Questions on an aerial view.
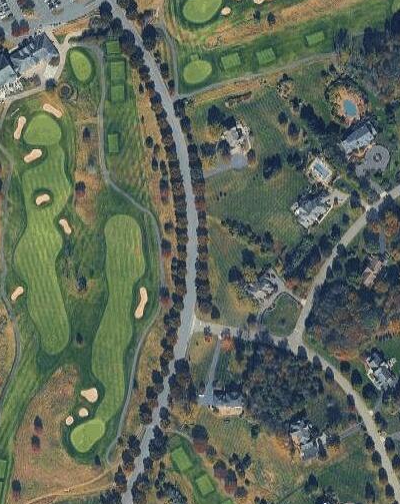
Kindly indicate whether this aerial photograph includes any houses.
Yes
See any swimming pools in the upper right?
Yes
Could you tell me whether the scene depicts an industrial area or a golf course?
golf course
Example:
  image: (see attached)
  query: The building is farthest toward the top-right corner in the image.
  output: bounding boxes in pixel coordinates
[340,121,380,157]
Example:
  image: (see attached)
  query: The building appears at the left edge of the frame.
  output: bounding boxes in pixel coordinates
[0,27,59,87]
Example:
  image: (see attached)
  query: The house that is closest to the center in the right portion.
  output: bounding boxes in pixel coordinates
[243,275,275,304]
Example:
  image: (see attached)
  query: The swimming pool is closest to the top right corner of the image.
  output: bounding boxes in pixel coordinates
[335,87,366,124]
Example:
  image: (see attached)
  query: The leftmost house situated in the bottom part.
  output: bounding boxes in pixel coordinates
[213,387,244,410]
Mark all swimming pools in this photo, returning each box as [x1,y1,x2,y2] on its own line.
[307,156,332,185]
[335,87,366,124]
